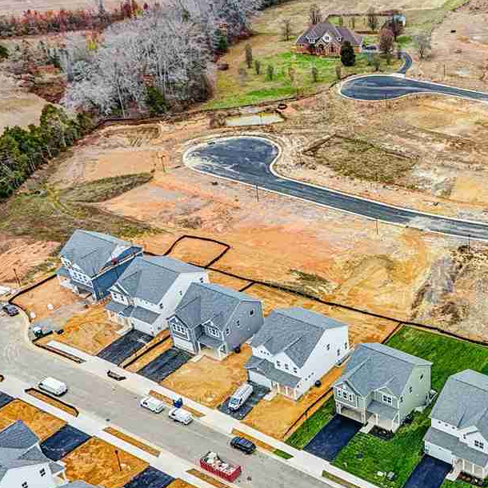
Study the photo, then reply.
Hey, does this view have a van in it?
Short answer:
Yes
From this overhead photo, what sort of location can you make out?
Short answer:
residential area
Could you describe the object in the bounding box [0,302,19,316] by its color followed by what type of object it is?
gray vehicle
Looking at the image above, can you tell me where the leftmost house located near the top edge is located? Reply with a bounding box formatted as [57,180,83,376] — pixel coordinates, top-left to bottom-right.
[295,21,365,54]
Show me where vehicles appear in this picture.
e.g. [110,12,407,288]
[227,437,257,457]
[0,302,19,316]
[223,383,255,413]
[163,403,196,426]
[135,392,168,415]
[35,375,66,397]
